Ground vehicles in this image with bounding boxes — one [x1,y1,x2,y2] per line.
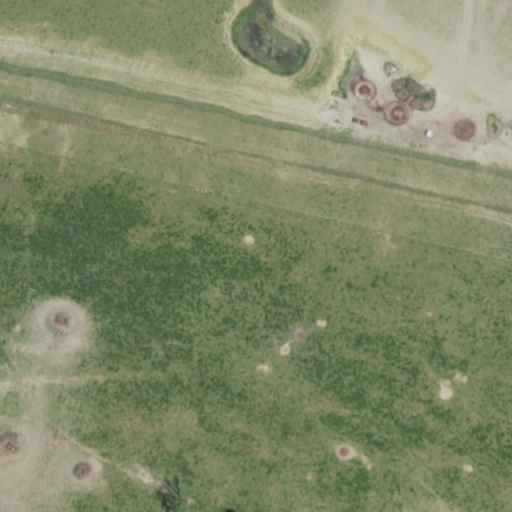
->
[352,118,368,126]
[332,92,347,98]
